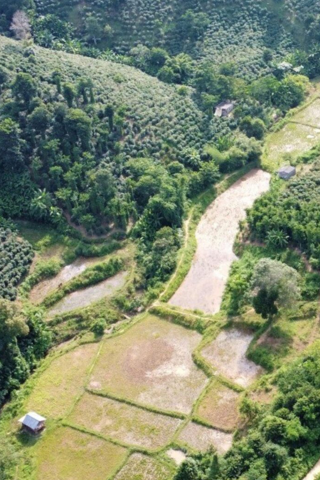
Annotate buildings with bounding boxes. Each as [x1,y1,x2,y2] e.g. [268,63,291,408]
[275,167,297,182]
[16,411,44,438]
[214,103,237,119]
